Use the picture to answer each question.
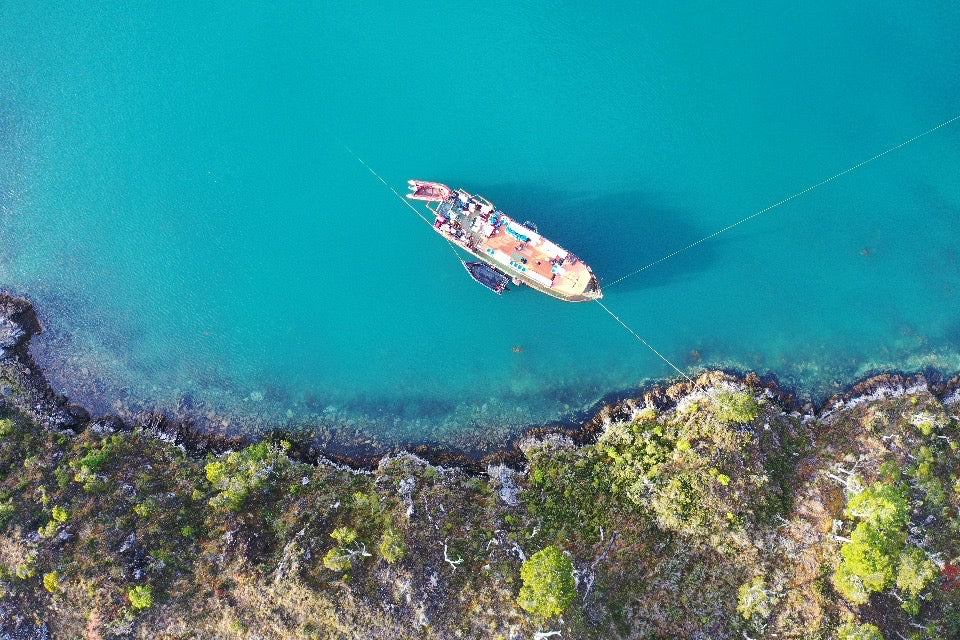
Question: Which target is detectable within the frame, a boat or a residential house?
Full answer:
I can see a boat in this picture.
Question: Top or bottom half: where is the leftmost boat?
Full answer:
Seen from above, the leftmost boat lies in the top half of the view.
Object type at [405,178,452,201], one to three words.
boat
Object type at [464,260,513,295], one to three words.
boat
